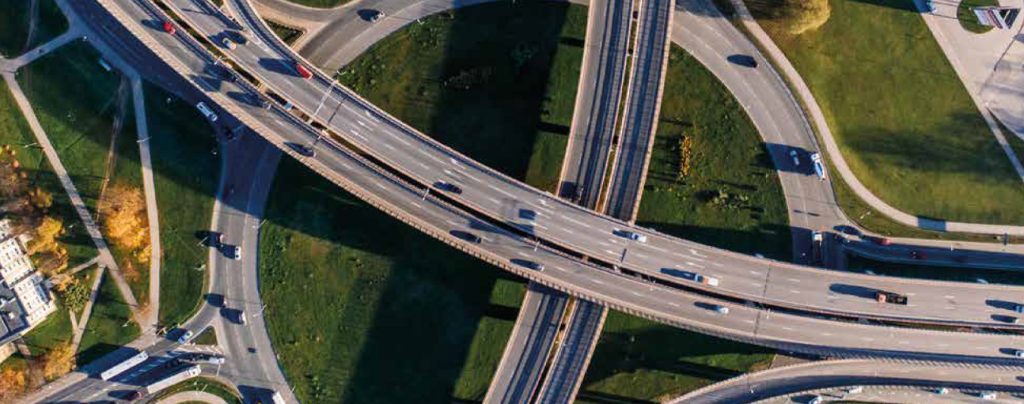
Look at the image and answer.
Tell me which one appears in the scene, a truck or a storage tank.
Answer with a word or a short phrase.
truck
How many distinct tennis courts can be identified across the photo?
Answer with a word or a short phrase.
0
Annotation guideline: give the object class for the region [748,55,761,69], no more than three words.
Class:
vehicle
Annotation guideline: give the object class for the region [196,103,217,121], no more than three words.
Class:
vehicle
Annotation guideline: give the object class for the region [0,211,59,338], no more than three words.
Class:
building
